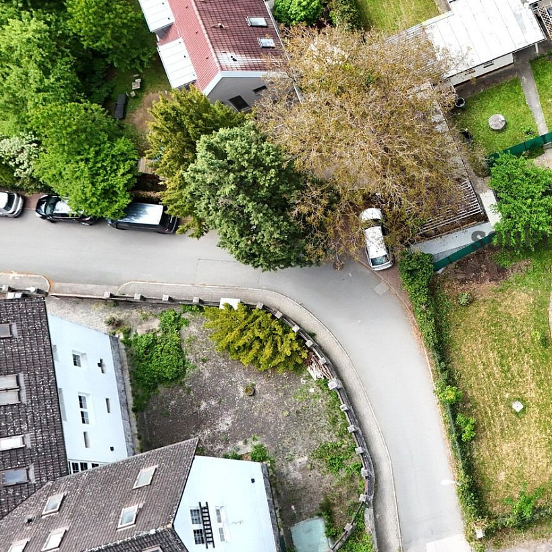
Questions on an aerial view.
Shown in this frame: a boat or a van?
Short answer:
van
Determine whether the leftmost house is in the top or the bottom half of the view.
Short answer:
bottom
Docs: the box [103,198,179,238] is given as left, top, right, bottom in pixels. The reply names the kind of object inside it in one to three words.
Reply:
van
